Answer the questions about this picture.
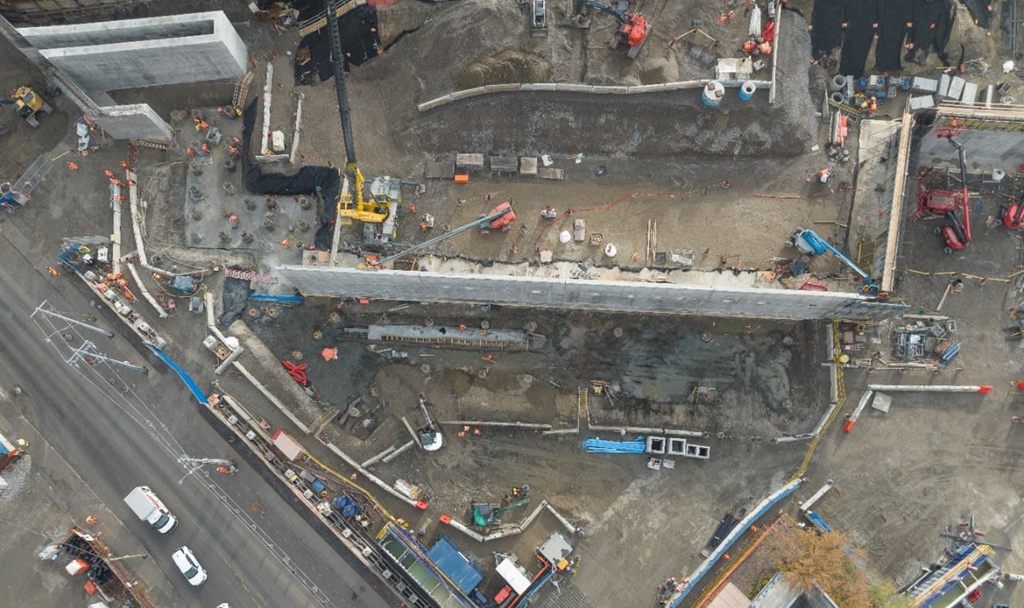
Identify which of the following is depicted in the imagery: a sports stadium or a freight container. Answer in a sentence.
The one in the frame is a freight container.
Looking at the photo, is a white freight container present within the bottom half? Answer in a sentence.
No, looking within the bottom half, there is no white freight container.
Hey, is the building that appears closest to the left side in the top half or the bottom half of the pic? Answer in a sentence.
It is in the bottom half that the building that appears closest to the left side appears.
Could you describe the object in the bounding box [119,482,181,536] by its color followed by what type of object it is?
white van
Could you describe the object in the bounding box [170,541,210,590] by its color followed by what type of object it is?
white car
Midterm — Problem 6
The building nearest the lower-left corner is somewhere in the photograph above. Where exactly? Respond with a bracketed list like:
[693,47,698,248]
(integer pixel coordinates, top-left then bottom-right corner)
[268,428,303,458]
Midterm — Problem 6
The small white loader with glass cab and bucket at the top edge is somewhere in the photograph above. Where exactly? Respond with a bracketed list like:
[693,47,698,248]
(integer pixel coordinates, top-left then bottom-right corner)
[529,0,550,35]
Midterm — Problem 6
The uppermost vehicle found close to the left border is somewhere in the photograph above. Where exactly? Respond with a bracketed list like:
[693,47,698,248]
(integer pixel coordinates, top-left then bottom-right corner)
[0,85,57,130]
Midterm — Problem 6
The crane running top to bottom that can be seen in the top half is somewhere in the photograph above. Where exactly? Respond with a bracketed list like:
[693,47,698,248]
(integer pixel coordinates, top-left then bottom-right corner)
[320,0,421,249]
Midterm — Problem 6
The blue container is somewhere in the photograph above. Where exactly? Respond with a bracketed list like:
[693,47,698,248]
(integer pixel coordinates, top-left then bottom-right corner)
[427,534,487,596]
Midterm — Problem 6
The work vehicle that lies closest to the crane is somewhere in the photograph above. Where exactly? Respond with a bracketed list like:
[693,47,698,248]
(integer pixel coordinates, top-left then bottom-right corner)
[358,201,521,271]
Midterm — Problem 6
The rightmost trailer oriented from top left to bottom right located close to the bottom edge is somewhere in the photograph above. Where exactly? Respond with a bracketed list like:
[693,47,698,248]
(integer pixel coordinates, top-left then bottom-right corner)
[488,546,532,596]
